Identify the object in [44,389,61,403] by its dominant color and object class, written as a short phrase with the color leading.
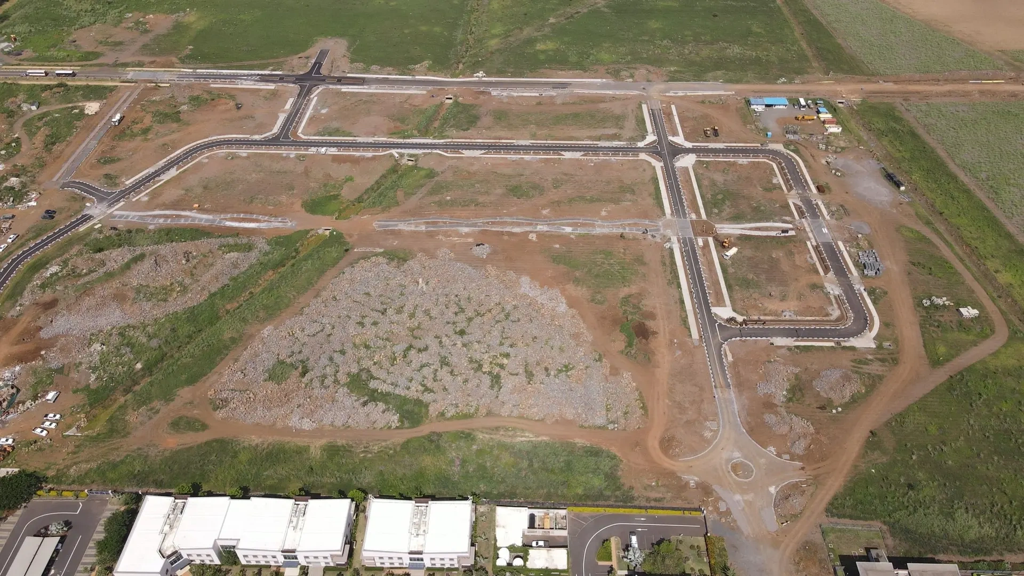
white vehicle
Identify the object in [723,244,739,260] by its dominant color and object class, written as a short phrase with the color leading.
white vehicle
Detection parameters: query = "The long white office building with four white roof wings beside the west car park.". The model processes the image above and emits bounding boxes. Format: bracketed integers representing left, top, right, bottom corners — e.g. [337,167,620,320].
[113,495,357,576]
